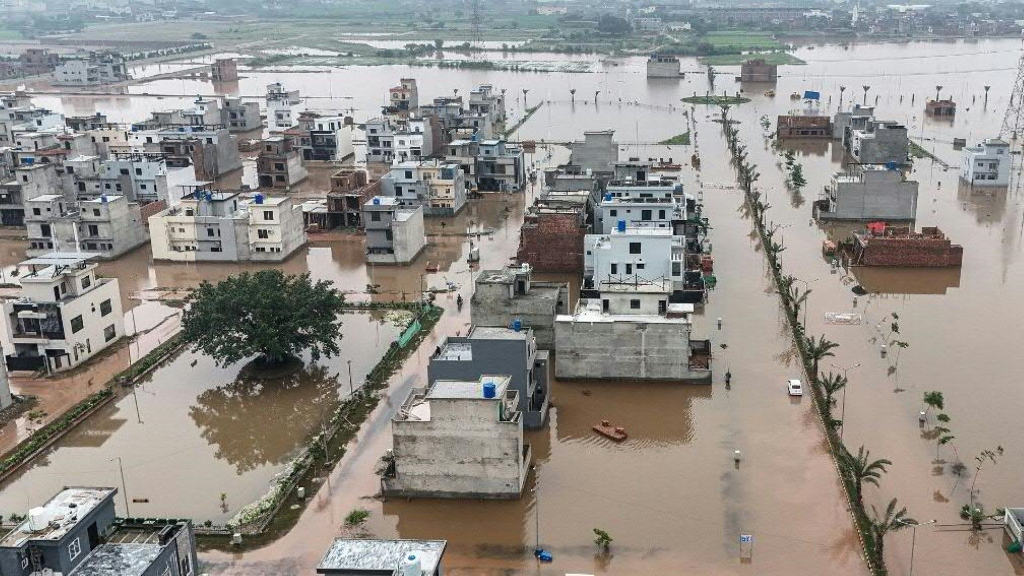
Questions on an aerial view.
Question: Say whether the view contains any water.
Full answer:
Yes, water shows up in the scene.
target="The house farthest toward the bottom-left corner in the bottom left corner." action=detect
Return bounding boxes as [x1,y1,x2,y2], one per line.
[0,483,189,576]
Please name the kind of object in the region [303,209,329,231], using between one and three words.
shed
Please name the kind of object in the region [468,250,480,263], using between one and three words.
vehicle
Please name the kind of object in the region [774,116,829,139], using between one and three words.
house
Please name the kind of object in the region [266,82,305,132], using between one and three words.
house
